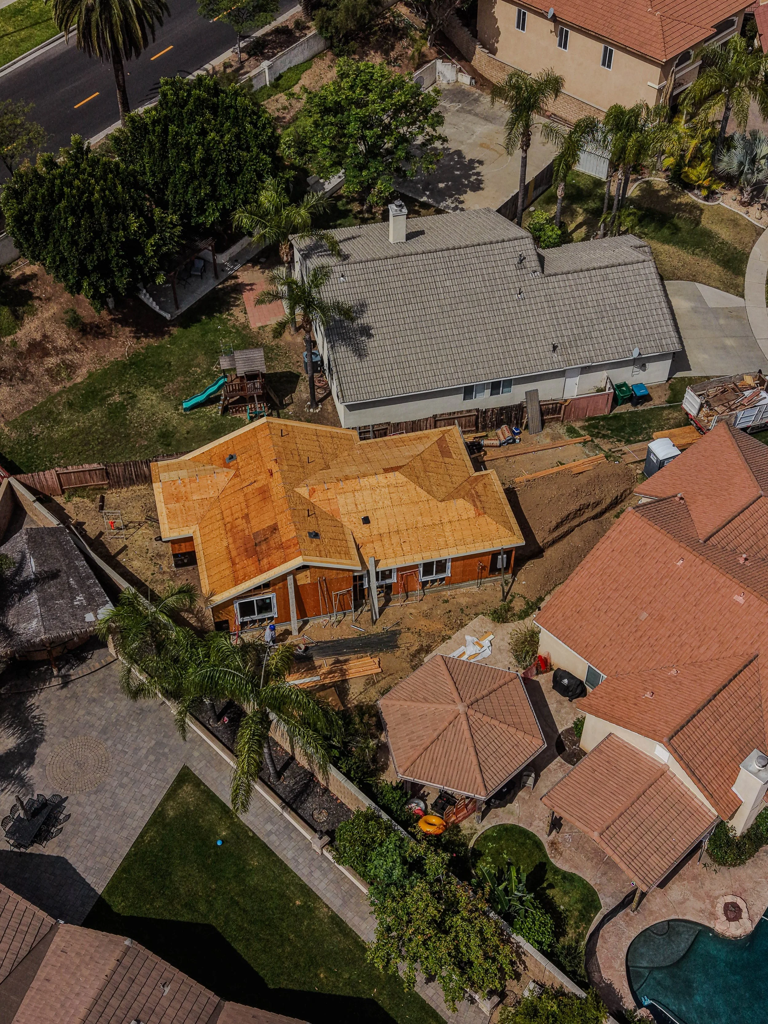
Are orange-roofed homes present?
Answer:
Yes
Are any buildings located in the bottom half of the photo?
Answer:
Yes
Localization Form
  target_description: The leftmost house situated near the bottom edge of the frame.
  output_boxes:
[0,884,282,1024]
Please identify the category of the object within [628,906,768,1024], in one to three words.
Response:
swimming pool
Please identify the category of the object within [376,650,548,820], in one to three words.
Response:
gazebo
